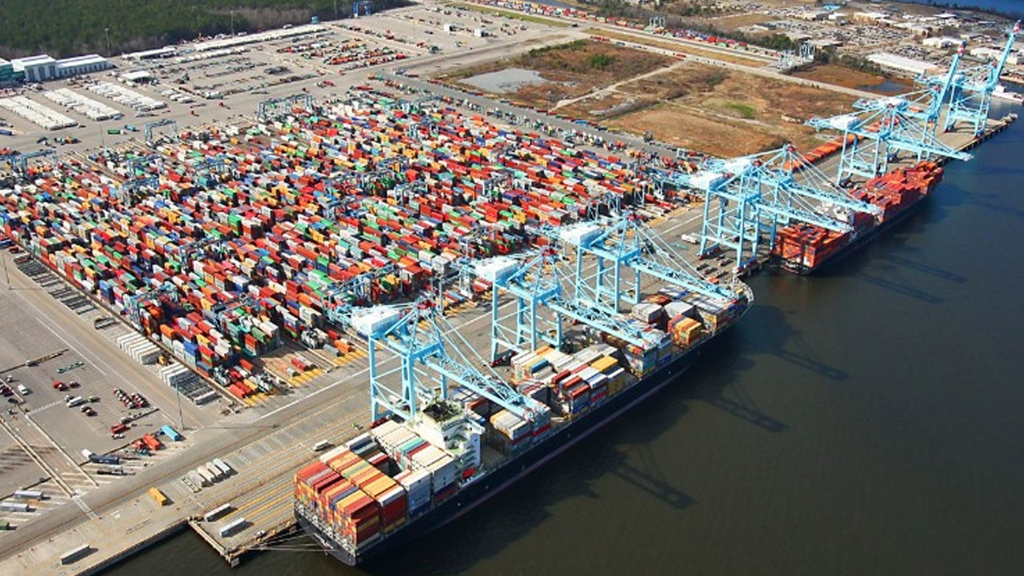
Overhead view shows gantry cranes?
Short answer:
Yes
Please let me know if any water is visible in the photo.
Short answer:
Yes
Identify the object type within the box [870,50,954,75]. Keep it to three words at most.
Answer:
building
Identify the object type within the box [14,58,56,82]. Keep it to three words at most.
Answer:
building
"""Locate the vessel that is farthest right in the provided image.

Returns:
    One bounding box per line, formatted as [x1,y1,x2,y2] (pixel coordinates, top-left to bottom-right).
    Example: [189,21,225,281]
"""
[994,80,1024,102]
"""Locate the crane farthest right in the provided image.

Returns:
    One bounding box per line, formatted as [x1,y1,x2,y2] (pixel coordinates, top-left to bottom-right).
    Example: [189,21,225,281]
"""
[920,16,1022,138]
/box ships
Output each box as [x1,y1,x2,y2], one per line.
[297,271,764,564]
[774,164,946,271]
[994,80,1024,102]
